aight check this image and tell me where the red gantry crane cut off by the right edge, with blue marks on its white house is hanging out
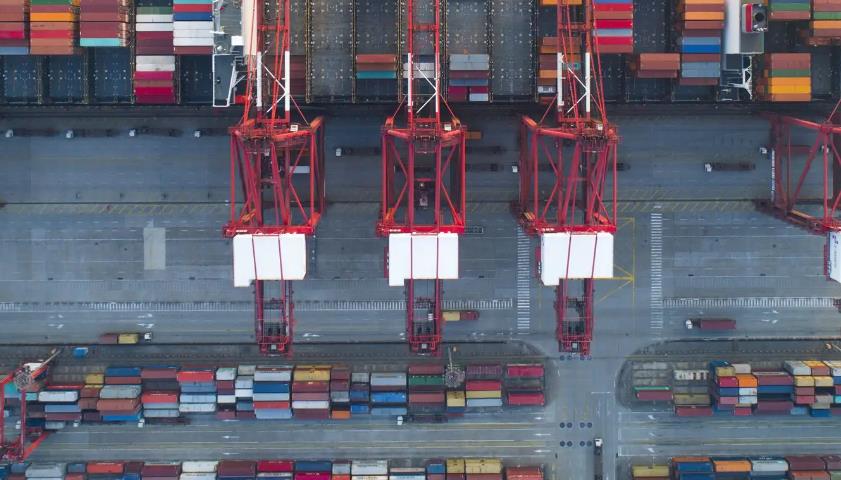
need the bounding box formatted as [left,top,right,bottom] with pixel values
[747,109,841,286]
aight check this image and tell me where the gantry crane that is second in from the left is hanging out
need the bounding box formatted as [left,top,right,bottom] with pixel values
[227,0,343,364]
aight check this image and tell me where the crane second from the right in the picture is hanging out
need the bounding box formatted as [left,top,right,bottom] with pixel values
[503,0,619,363]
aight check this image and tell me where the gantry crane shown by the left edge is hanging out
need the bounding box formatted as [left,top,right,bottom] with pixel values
[0,358,62,464]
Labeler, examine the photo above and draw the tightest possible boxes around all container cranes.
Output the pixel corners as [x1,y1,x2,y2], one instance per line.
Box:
[378,0,469,364]
[503,0,619,363]
[747,109,841,286]
[227,0,343,364]
[0,358,62,464]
